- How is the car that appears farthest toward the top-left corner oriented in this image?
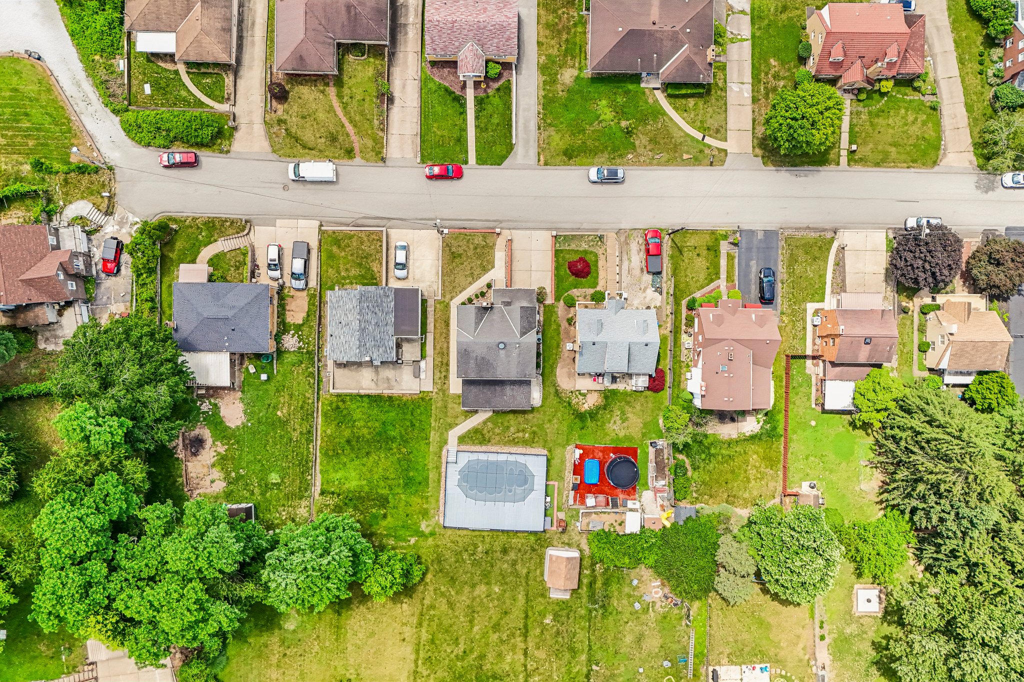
from left to right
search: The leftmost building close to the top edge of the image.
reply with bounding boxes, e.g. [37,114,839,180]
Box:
[125,0,240,69]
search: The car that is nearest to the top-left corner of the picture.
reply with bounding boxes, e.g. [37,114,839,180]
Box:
[158,149,200,169]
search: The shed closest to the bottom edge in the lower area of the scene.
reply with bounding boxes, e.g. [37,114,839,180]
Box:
[547,550,579,599]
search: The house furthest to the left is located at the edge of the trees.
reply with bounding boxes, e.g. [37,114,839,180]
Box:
[0,221,91,325]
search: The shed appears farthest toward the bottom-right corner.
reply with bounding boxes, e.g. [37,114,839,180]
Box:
[794,492,818,510]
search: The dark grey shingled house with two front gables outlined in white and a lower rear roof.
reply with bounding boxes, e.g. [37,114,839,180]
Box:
[455,279,539,409]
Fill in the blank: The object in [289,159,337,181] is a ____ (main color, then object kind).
white vehicle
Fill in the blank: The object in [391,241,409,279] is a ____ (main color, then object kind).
white car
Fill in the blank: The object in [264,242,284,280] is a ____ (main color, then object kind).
white car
